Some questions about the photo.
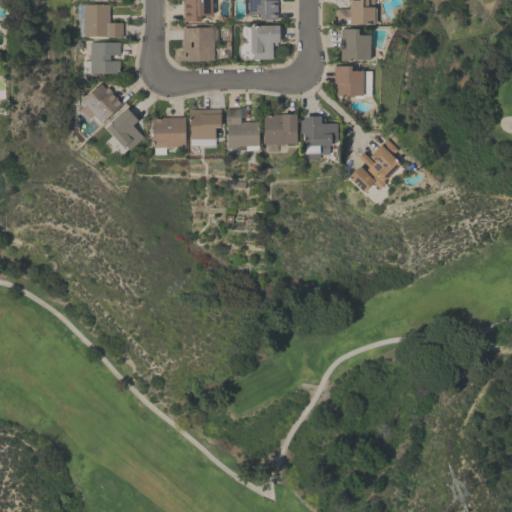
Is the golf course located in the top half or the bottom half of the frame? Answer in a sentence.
Seen from above, the golf course lies in the bottom half of the view.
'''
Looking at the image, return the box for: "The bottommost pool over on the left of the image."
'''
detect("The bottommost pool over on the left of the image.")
[80,115,100,138]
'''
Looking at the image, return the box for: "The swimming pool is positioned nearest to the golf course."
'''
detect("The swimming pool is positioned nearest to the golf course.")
[402,174,424,186]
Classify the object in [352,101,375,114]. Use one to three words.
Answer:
swimming pool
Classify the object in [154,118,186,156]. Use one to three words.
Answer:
house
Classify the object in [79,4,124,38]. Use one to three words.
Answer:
house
